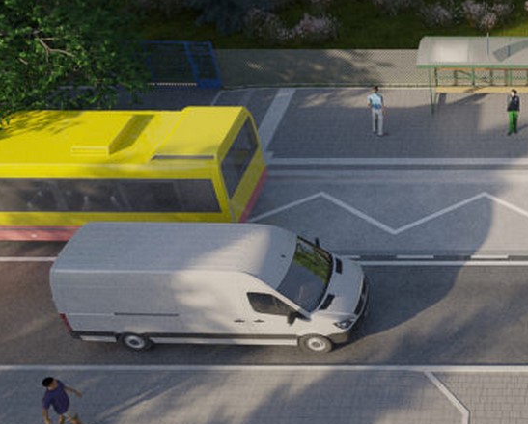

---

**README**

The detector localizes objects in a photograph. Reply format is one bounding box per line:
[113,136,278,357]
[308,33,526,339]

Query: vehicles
[54,222,373,354]
[0,105,264,240]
